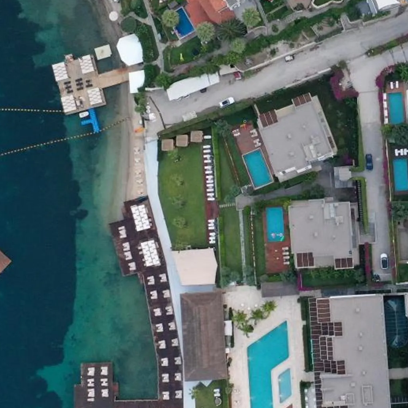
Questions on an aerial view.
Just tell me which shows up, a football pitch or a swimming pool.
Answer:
swimming pool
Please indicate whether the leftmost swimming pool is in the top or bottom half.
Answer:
top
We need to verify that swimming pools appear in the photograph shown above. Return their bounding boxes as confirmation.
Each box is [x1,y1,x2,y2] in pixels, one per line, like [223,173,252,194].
[392,157,408,192]
[267,206,285,243]
[279,368,291,405]
[386,91,405,125]
[171,6,195,40]
[242,147,274,191]
[246,318,290,408]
